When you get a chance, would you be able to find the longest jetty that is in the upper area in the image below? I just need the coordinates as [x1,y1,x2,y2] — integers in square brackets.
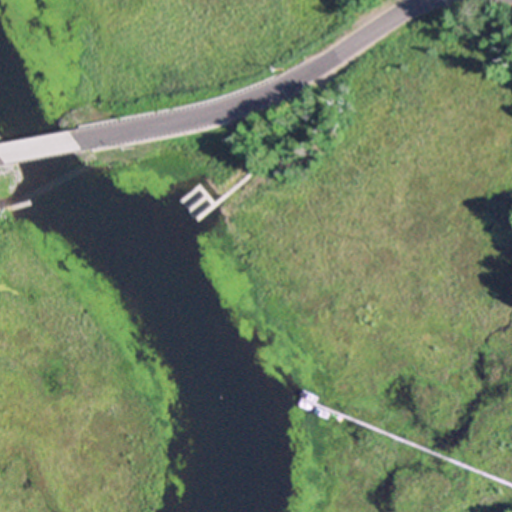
[181,172,252,219]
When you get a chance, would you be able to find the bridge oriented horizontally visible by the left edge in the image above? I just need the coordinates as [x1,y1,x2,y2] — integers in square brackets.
[0,127,80,168]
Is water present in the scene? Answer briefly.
Yes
